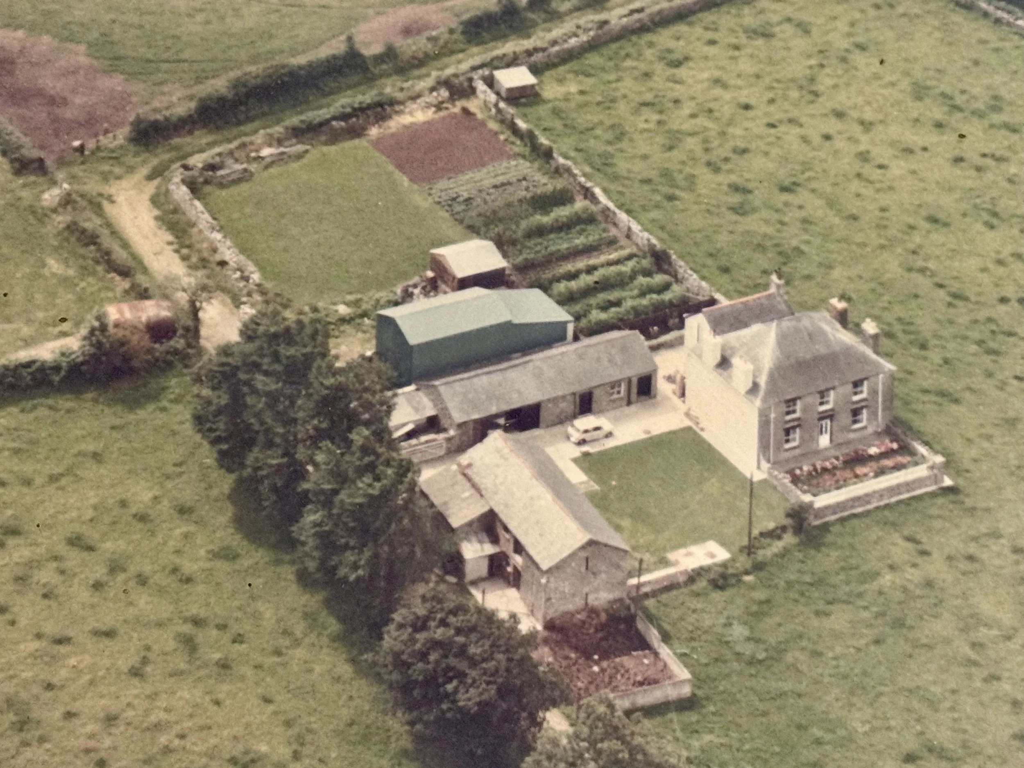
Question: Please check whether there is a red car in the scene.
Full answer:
No, no red car is visible in the scene.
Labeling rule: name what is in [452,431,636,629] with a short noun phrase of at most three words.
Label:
barn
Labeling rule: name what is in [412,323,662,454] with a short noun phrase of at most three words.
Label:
barn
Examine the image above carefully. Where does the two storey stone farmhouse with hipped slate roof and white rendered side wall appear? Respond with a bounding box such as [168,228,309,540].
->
[673,269,900,468]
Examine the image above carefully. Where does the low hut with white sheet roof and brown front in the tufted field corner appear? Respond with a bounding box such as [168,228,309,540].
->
[491,65,538,100]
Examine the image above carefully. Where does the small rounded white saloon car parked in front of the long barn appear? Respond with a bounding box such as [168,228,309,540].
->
[564,414,616,445]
